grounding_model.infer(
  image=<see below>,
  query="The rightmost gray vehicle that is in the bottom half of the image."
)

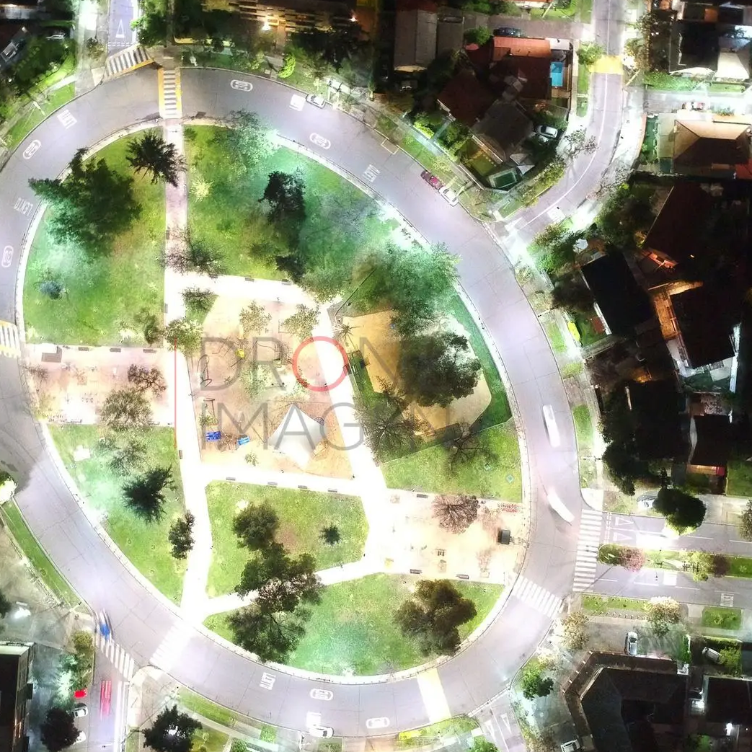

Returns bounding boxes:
[700,645,723,662]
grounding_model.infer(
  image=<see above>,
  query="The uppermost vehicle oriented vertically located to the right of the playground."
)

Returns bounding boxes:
[544,411,561,445]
